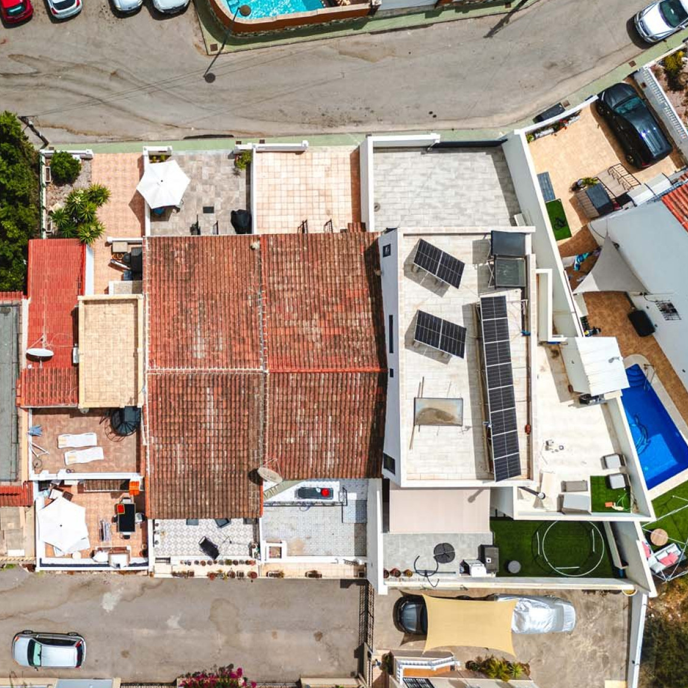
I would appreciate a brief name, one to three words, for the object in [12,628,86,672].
car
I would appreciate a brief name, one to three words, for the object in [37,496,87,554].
umbrella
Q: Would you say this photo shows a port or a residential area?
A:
residential area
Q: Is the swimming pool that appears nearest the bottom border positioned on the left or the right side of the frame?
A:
right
